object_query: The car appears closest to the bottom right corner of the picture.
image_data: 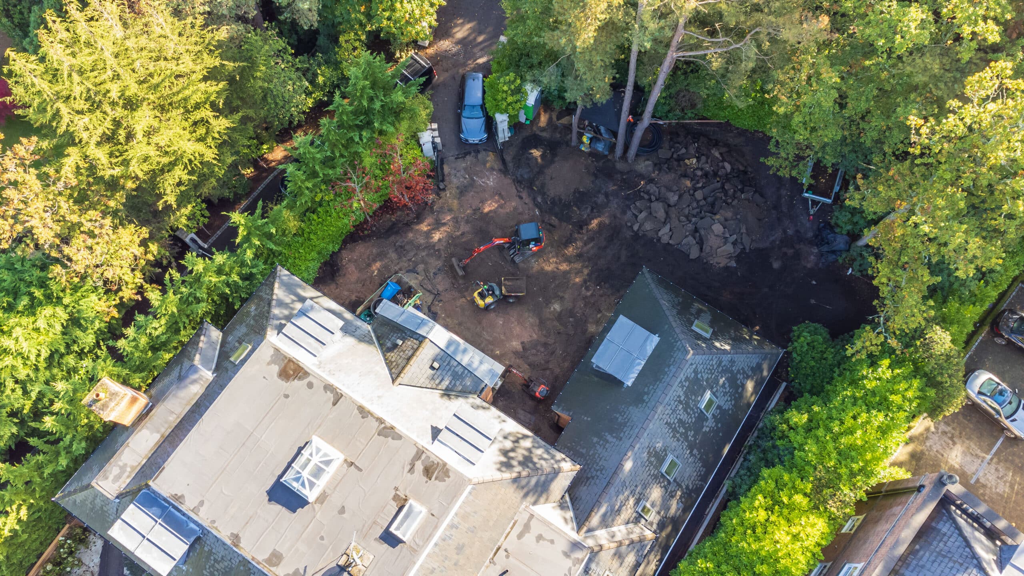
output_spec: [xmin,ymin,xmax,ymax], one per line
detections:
[957,373,1024,447]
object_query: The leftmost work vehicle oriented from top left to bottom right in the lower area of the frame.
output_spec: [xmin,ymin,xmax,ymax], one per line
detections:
[505,368,551,406]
